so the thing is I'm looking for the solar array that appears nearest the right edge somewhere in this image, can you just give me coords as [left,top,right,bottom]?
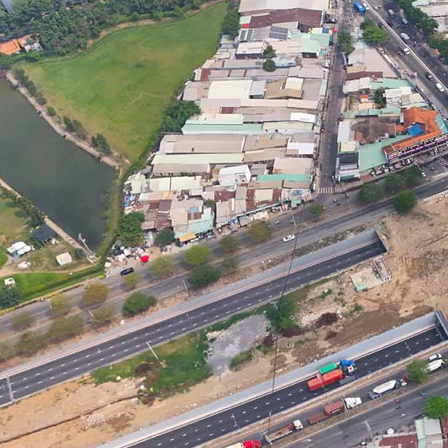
[270,26,289,40]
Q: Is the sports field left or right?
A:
left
